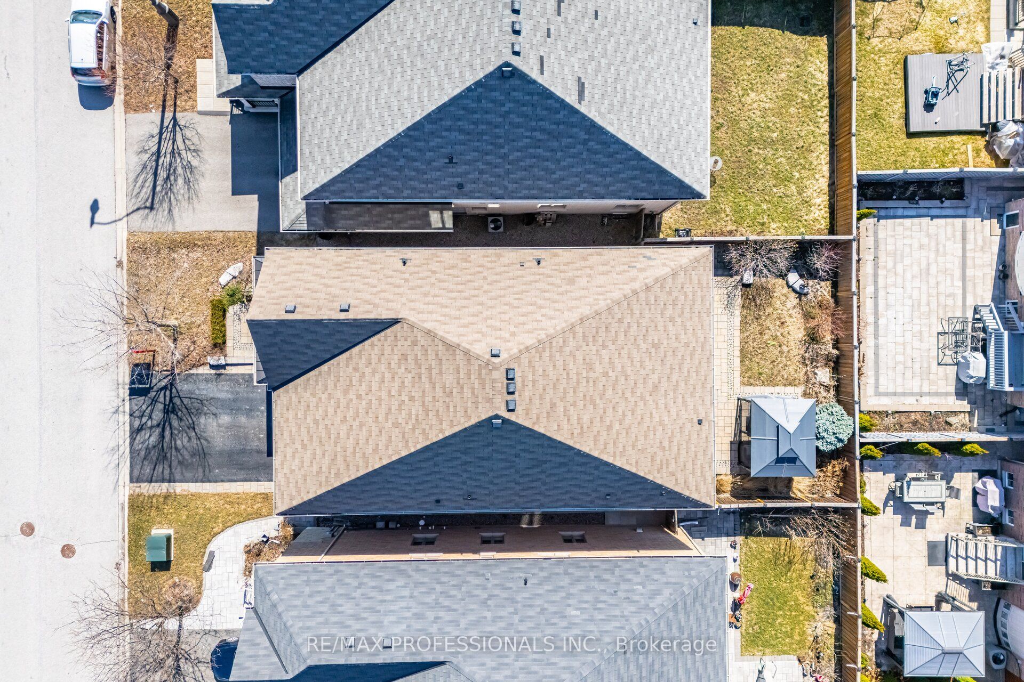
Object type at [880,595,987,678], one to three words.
gazebo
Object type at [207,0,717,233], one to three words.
house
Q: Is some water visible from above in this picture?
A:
No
